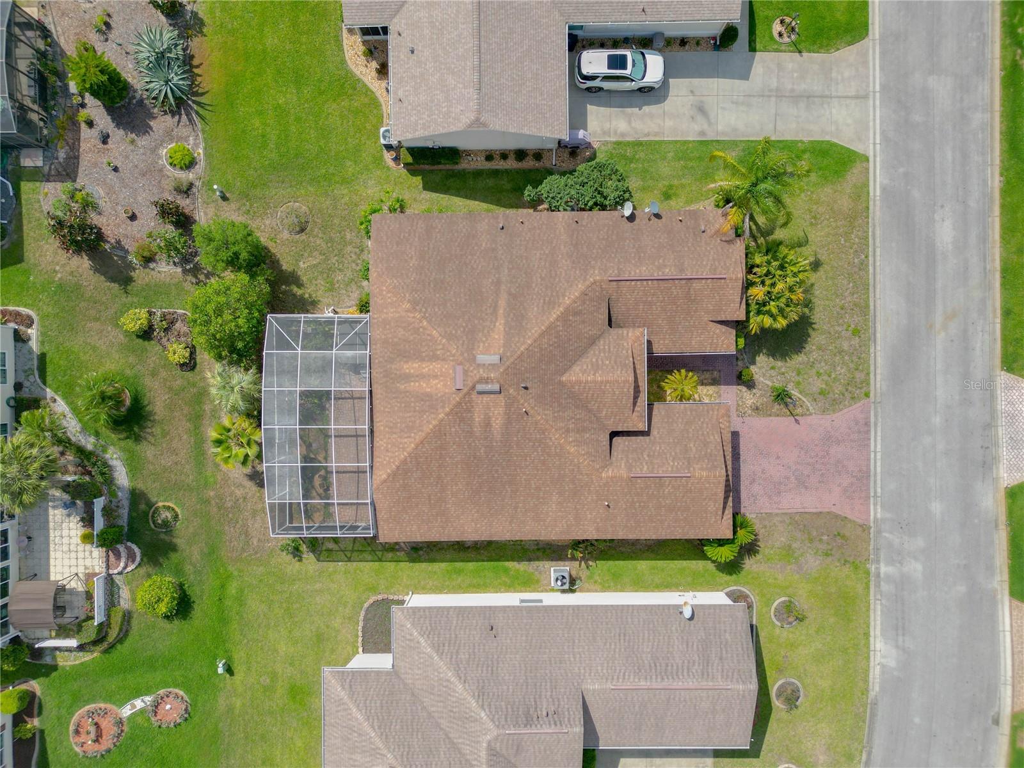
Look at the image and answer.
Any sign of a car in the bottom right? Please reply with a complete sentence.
No, I can find no car in the bottom right.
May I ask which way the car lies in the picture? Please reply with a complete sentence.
The car runs from side to side in the image.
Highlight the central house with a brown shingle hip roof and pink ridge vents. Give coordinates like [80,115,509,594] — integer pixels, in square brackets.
[367,208,747,542]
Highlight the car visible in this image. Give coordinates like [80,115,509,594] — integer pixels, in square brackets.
[574,46,665,93]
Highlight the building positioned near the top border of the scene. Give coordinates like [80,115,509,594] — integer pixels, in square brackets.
[341,0,742,167]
